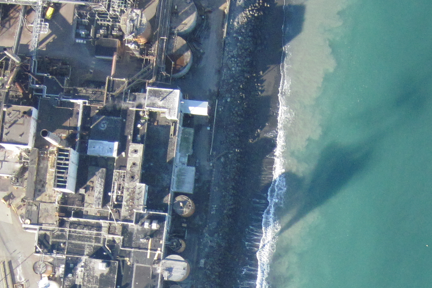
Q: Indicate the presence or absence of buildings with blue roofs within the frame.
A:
Yes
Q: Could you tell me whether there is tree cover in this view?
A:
No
